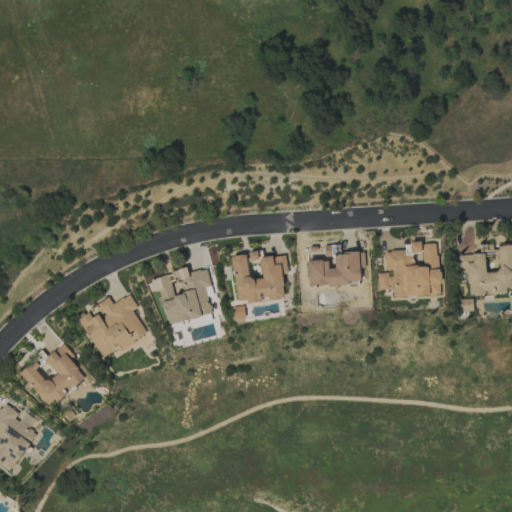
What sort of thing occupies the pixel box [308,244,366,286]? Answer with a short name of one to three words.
house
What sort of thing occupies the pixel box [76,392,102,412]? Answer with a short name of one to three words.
swimming pool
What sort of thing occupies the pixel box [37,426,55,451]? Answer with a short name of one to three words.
swimming pool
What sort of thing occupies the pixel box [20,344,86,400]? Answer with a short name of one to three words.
house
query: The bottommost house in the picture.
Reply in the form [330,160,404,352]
[0,396,41,472]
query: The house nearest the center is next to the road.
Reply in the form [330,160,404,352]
[232,249,288,302]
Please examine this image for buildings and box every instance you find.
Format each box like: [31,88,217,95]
[20,344,86,400]
[0,396,41,472]
[79,295,150,358]
[232,249,288,302]
[460,298,474,318]
[234,304,246,322]
[308,244,366,286]
[461,243,512,302]
[378,242,443,301]
[161,268,214,324]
